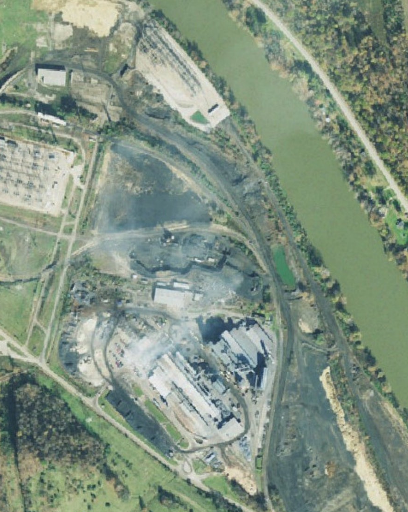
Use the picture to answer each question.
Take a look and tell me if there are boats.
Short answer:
No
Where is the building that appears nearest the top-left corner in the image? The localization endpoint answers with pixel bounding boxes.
[38,68,67,86]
